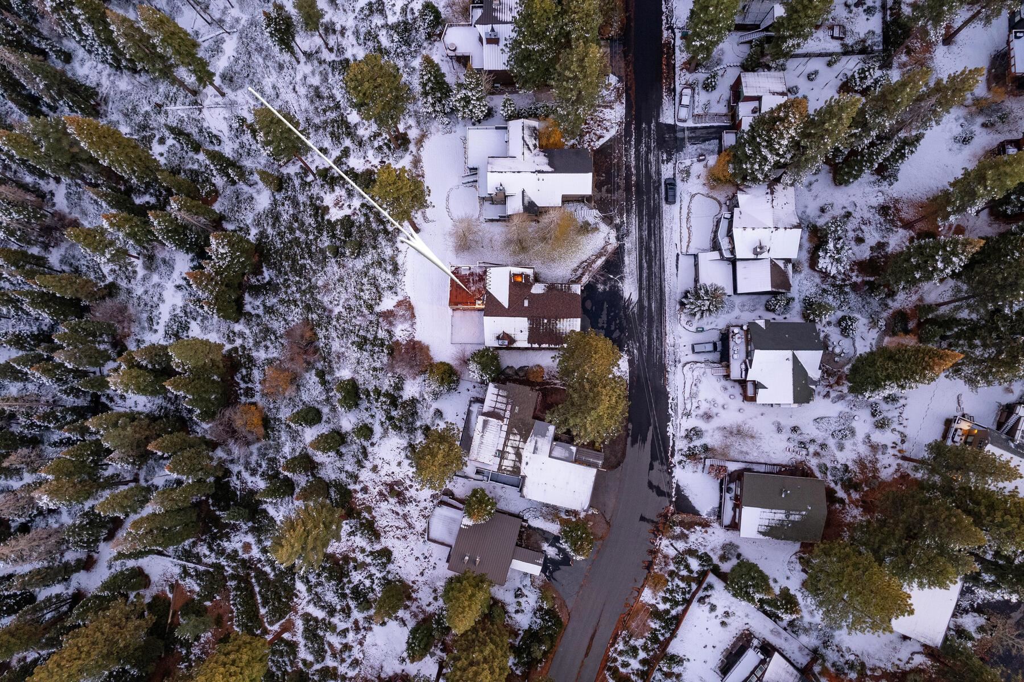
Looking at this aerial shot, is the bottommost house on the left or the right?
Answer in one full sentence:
It is on the right.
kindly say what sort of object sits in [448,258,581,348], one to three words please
house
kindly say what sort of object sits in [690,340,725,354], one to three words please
vehicle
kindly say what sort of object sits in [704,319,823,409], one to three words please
building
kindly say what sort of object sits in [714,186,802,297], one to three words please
house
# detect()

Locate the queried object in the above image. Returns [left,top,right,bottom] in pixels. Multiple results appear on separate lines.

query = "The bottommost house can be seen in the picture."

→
[716,641,807,682]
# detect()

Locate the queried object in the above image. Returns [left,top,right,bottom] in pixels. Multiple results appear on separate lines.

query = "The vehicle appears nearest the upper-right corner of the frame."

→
[676,88,693,121]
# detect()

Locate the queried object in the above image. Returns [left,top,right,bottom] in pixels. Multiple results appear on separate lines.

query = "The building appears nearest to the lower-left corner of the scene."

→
[427,495,544,585]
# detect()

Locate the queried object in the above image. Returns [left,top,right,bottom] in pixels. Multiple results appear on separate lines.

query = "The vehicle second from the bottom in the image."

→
[664,178,678,205]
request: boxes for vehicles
[664,178,678,205]
[676,88,693,121]
[690,340,725,354]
